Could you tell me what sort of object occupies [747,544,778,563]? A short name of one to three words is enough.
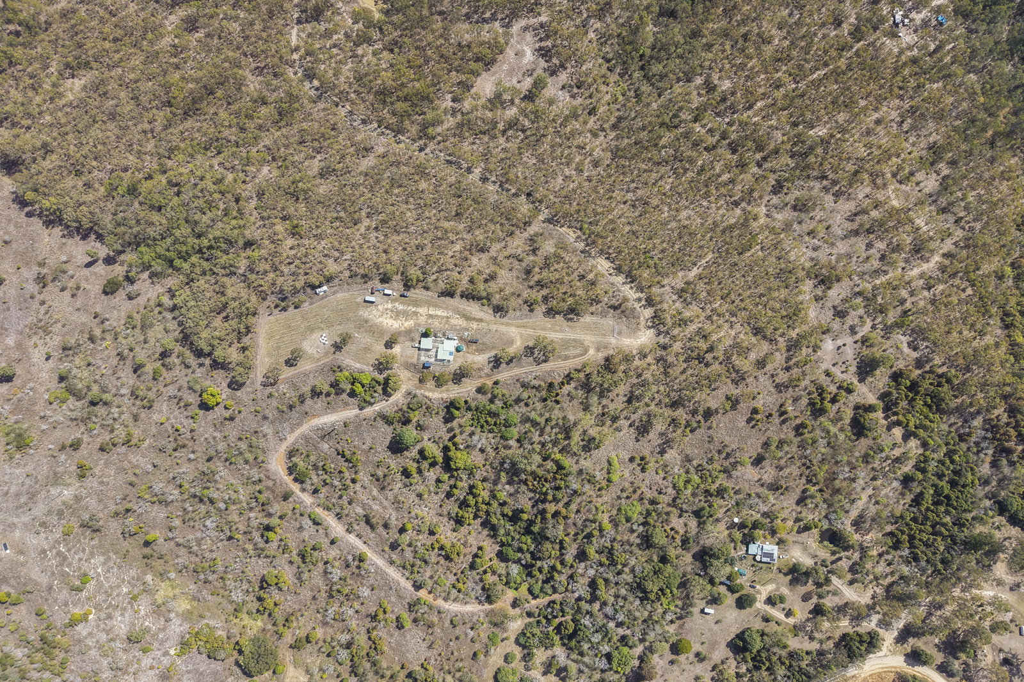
house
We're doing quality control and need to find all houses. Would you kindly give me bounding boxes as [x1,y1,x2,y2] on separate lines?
[747,544,778,563]
[417,340,457,366]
